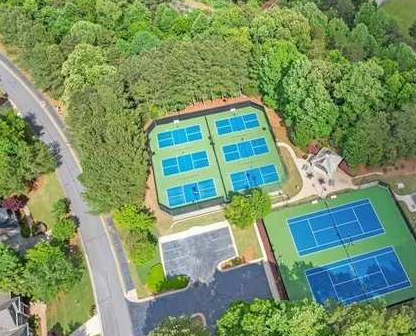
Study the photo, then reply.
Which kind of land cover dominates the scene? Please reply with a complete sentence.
The scene is dominated by trees.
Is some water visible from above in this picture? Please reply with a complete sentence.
No, the picture contains no water.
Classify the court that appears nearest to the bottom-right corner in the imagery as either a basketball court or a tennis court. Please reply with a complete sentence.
The court that appears nearest to the bottom-right corner is a tennis court.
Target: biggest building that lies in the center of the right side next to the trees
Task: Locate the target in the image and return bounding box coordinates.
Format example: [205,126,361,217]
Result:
[308,146,345,182]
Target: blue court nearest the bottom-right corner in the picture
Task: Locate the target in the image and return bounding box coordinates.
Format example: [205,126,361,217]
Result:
[305,245,412,314]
